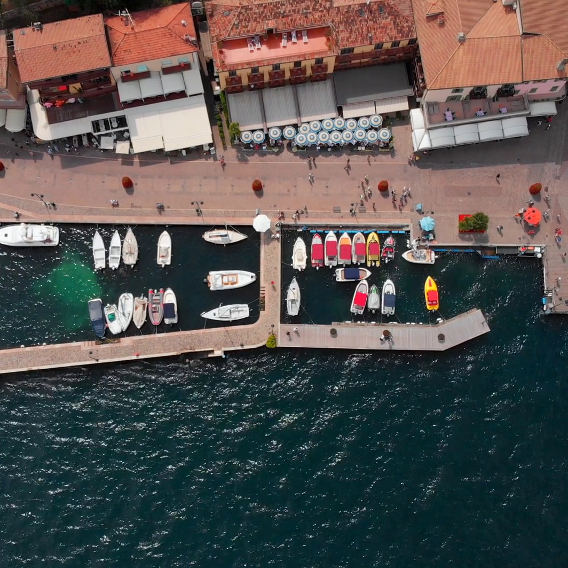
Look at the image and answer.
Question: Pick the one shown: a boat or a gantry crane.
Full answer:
It is a boat that can be seen here.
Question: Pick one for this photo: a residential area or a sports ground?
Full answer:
The area seen from above is a residential area.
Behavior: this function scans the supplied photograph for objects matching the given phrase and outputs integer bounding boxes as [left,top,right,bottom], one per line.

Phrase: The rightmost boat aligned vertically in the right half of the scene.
[424,276,441,314]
